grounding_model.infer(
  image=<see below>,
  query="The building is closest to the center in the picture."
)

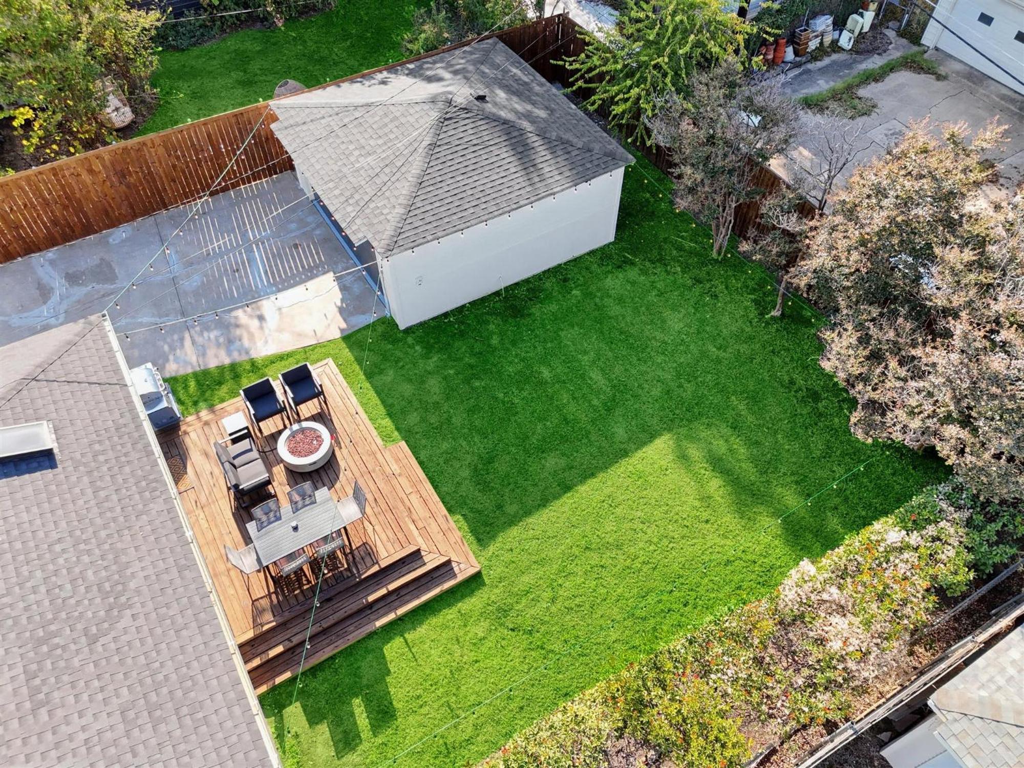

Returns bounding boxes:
[267,38,635,329]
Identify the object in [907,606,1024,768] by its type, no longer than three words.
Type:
house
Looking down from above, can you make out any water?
No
